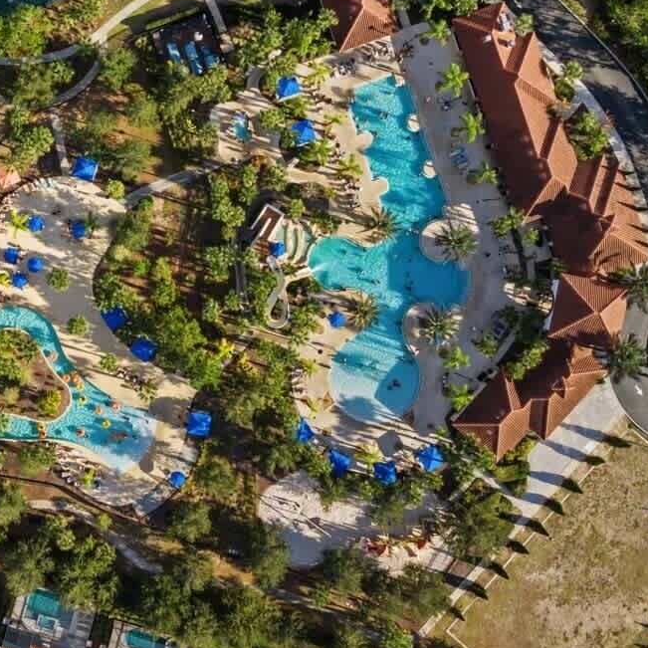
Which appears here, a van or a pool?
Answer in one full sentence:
Looking from above, you can make out a pool.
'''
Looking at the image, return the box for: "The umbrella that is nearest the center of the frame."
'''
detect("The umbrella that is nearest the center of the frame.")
[327,311,344,327]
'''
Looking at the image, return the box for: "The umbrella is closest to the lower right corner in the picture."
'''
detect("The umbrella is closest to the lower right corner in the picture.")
[417,536,430,549]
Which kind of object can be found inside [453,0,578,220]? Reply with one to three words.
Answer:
building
